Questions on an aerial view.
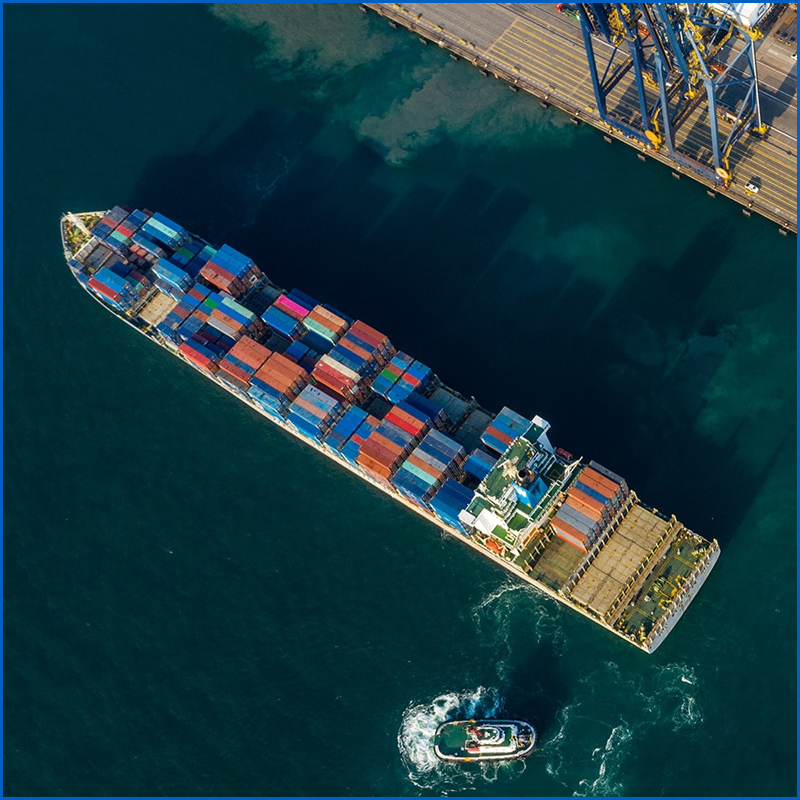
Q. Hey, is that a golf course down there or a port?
port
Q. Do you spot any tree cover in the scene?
No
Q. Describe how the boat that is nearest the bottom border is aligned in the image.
from left to right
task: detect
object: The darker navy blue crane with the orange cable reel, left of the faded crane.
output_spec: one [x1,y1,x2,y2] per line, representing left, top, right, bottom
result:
[574,0,695,147]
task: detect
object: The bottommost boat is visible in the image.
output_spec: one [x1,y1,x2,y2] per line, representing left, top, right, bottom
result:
[431,717,541,763]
